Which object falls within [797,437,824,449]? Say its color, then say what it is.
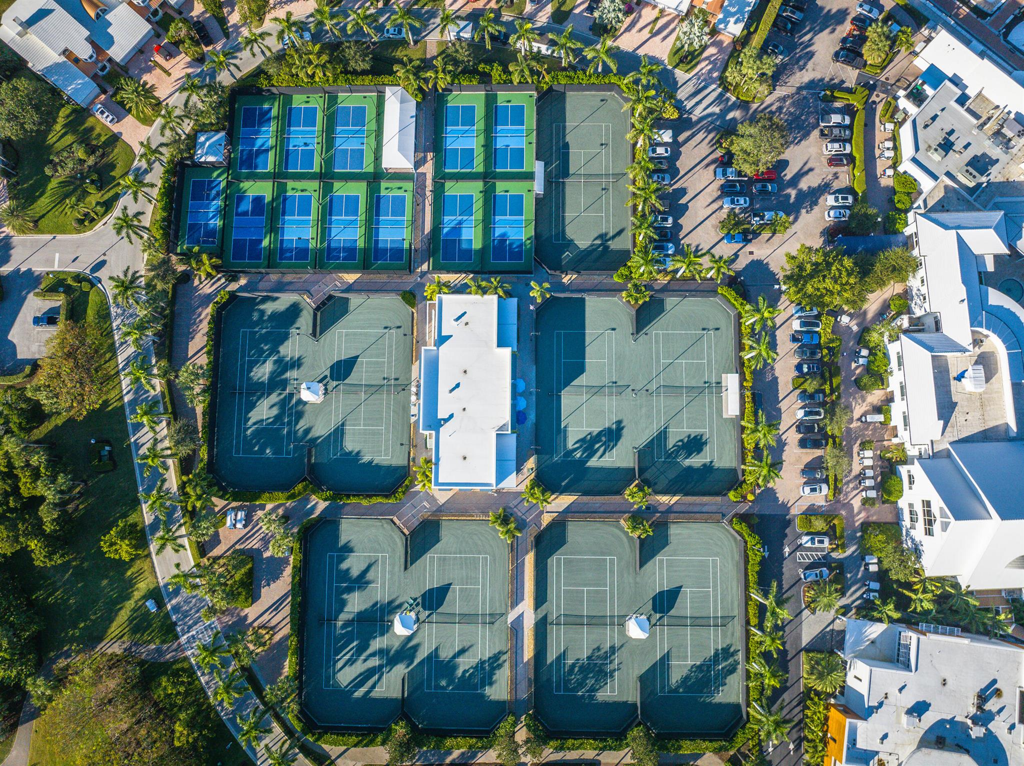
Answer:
black vehicle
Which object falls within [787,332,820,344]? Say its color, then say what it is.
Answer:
blue vehicle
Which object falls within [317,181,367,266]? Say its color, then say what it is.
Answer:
blue sports court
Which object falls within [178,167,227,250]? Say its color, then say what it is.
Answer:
blue sports court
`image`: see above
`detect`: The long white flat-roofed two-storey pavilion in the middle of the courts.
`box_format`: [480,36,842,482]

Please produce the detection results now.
[418,294,518,489]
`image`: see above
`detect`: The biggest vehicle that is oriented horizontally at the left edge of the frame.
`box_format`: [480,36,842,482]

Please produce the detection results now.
[31,315,63,327]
